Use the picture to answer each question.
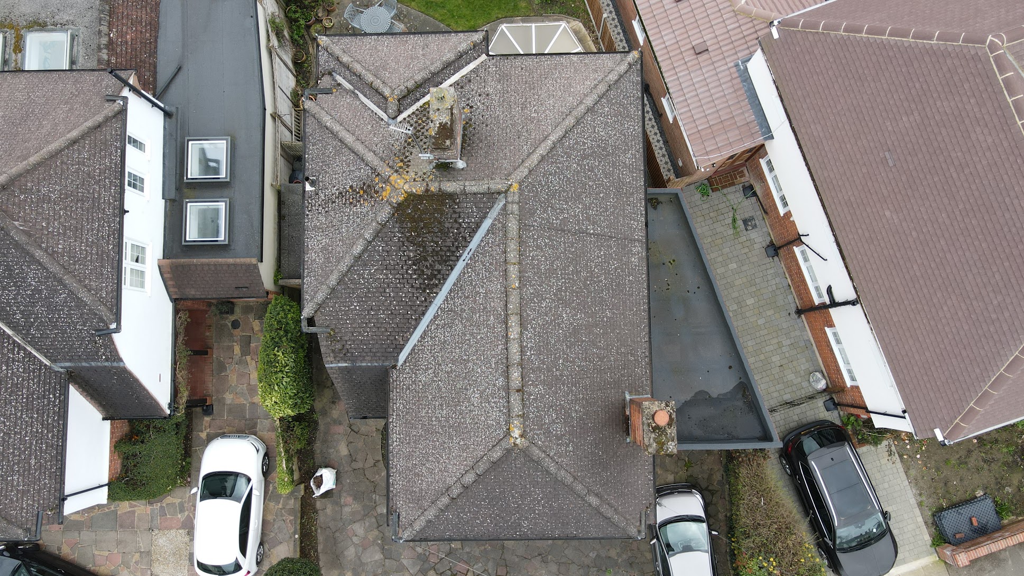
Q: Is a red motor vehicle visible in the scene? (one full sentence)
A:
No, there's no red motor vehicle here.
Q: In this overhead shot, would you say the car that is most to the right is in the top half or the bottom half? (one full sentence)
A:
It is in the bottom half that the car that is most to the right appears.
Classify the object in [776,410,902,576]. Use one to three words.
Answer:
car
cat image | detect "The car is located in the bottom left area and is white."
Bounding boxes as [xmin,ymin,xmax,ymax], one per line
[188,431,271,576]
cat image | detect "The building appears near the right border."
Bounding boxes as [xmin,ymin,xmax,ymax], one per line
[736,0,1024,448]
